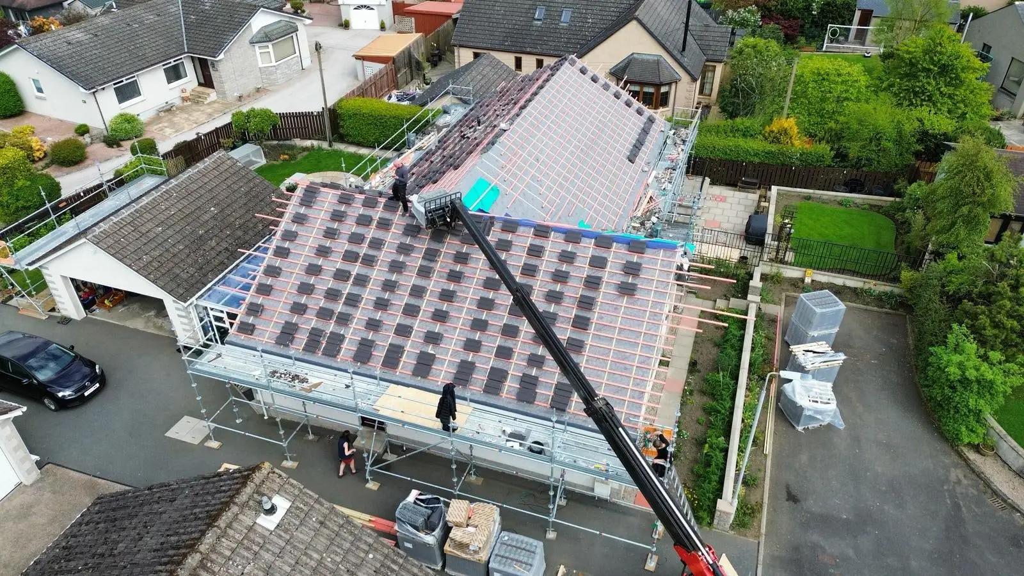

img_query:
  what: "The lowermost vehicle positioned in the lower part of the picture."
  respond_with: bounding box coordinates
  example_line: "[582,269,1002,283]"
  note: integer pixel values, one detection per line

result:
[0,329,108,415]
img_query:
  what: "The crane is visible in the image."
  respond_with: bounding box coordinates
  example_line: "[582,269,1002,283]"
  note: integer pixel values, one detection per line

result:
[424,191,742,576]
